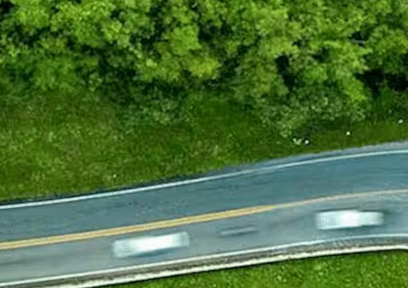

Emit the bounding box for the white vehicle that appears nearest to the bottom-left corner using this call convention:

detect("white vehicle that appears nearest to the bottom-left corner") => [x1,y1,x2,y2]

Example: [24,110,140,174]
[116,231,187,261]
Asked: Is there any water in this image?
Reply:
No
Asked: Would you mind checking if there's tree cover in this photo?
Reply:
Yes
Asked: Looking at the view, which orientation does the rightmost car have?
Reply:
from side to side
